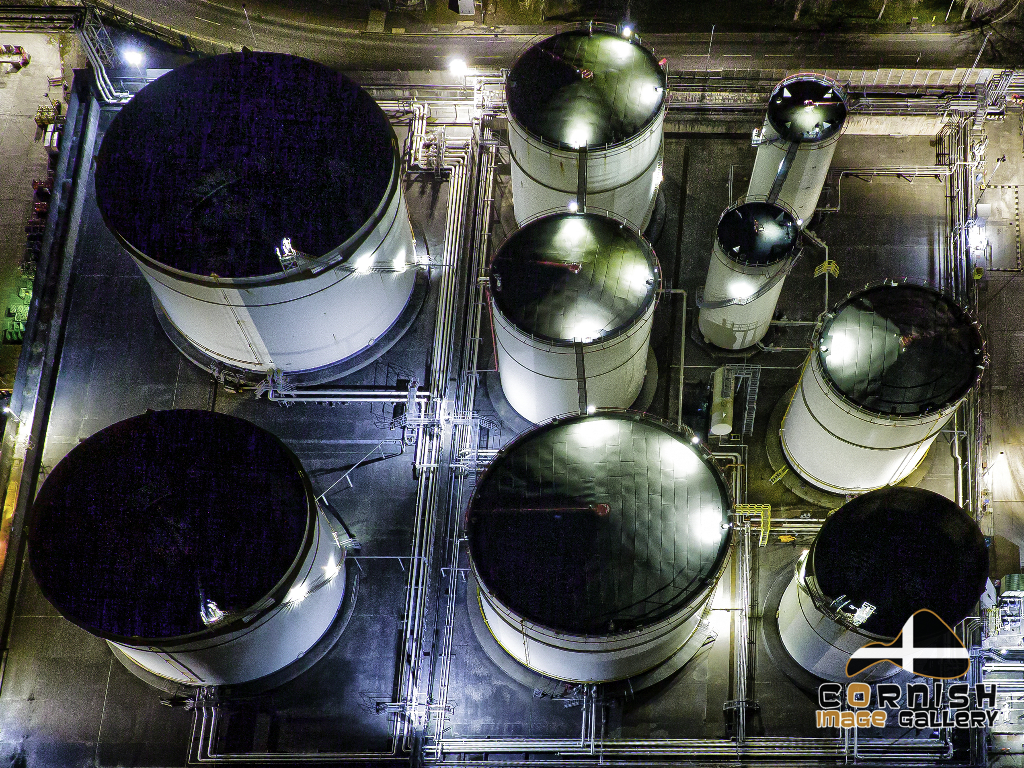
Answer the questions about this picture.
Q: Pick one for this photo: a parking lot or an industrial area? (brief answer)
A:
industrial area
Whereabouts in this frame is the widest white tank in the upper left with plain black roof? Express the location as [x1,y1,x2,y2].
[96,49,438,392]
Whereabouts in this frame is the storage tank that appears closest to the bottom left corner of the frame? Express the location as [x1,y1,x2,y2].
[36,400,361,712]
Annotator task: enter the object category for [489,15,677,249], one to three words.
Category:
storage tank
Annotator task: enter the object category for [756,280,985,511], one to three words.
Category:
storage tank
